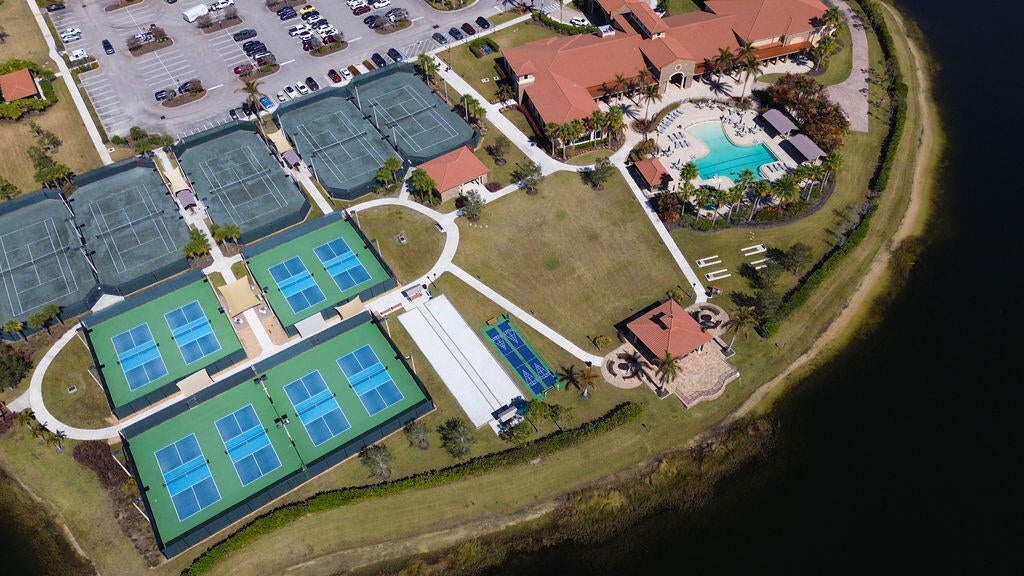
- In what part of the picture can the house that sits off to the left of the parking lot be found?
top left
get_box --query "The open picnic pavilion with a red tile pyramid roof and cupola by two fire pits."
[627,299,712,369]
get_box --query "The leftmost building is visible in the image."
[0,68,40,109]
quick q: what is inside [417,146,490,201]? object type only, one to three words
building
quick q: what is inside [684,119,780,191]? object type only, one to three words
swimming pool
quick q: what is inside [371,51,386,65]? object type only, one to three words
car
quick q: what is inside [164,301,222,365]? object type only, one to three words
sports court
